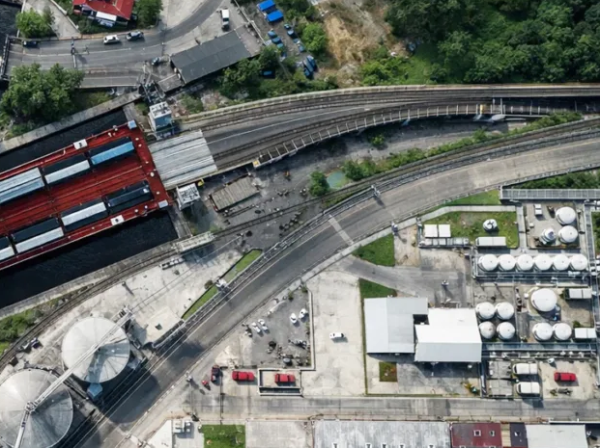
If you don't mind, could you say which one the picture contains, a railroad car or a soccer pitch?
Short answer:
railroad car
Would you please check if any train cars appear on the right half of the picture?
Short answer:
No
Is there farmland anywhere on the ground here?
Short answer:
No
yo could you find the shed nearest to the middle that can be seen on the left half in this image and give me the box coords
[212,176,259,212]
